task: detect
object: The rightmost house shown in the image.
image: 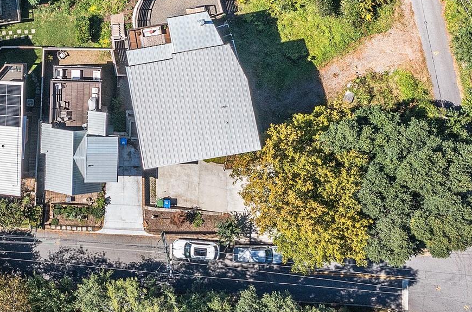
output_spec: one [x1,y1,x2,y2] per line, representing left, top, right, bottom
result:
[126,12,260,169]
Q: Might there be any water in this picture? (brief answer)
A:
No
